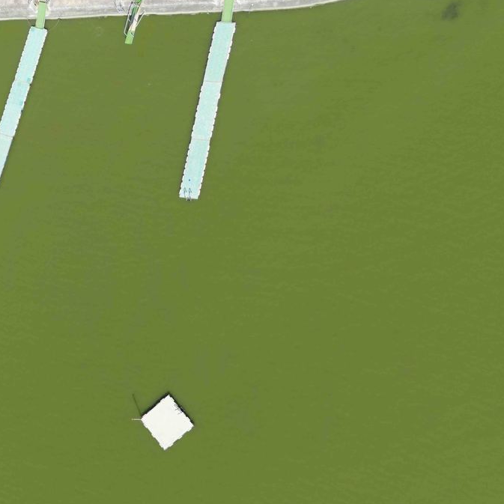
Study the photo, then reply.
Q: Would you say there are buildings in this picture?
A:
No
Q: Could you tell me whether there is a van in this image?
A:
No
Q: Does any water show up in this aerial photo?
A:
Yes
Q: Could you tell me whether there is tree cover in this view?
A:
No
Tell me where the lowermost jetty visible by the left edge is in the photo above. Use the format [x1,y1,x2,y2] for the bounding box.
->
[0,27,48,186]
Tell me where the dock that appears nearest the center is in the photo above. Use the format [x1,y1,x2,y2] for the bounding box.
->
[180,22,236,201]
